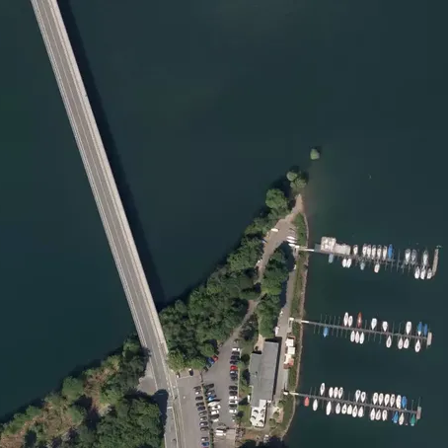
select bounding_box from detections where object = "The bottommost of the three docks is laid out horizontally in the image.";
[289,385,421,420]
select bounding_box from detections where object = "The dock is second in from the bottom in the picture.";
[293,313,433,346]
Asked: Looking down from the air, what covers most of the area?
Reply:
water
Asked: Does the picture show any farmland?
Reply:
No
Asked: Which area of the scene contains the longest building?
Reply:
bottom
